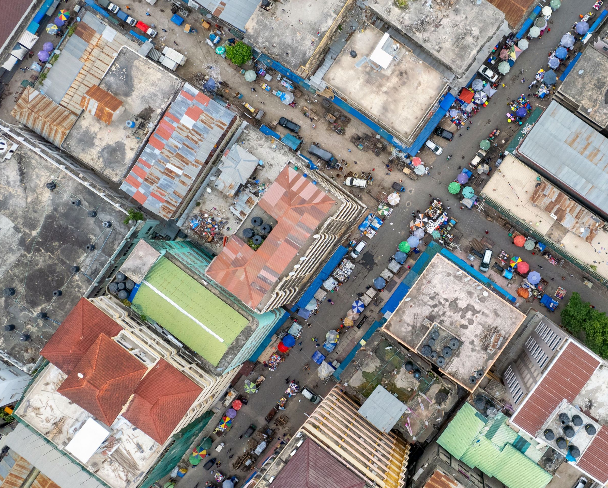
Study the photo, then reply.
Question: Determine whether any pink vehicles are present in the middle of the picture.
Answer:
No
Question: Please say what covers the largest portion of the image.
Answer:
buildings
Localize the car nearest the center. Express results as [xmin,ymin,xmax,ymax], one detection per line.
[351,239,367,259]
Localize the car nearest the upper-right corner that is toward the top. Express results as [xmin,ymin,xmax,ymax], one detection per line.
[479,67,499,83]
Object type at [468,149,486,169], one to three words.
car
